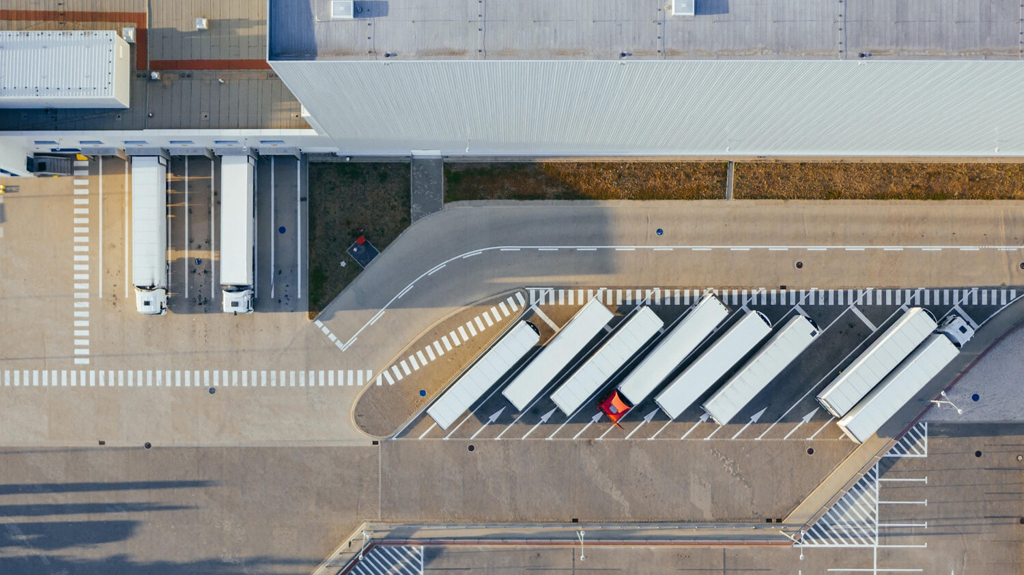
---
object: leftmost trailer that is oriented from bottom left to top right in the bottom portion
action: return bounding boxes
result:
[428,320,540,429]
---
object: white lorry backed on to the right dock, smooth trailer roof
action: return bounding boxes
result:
[221,155,255,314]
